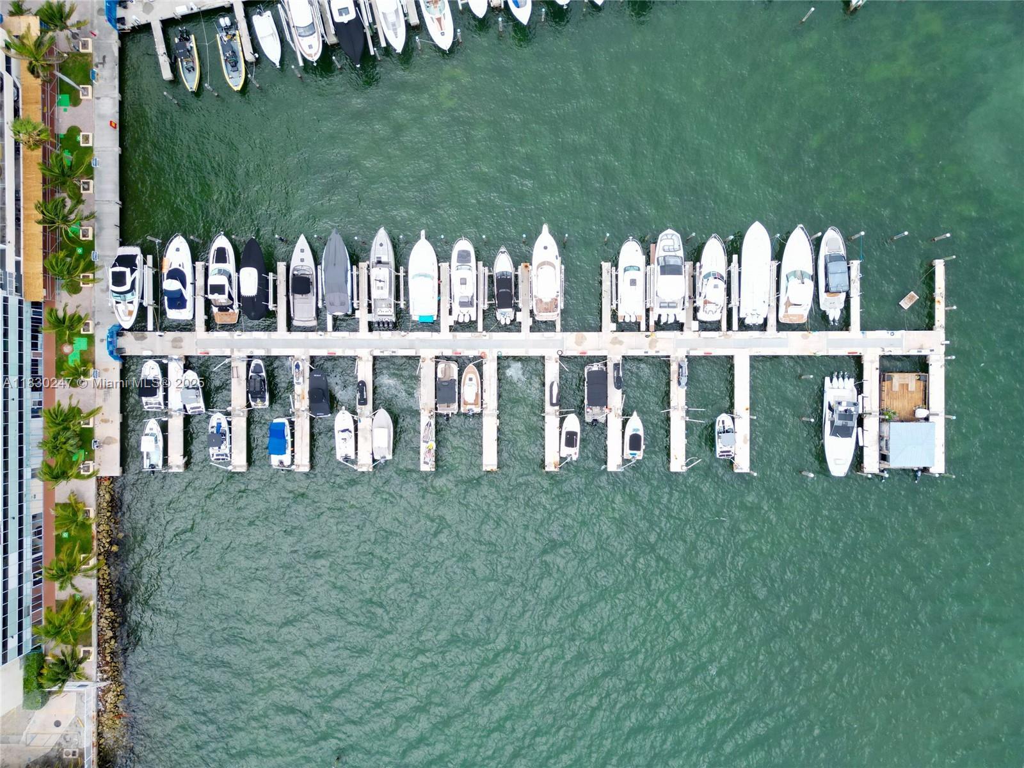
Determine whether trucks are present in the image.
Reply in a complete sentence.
No, there is no truck in the image.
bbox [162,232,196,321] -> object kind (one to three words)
boat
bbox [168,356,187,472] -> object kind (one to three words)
pier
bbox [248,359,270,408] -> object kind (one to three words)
boat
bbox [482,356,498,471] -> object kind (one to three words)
pier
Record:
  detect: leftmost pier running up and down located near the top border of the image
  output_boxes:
[151,20,176,82]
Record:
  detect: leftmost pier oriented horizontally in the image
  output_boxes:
[120,0,266,34]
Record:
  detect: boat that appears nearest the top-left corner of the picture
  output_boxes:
[172,30,203,92]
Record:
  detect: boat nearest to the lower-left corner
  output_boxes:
[141,419,167,475]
